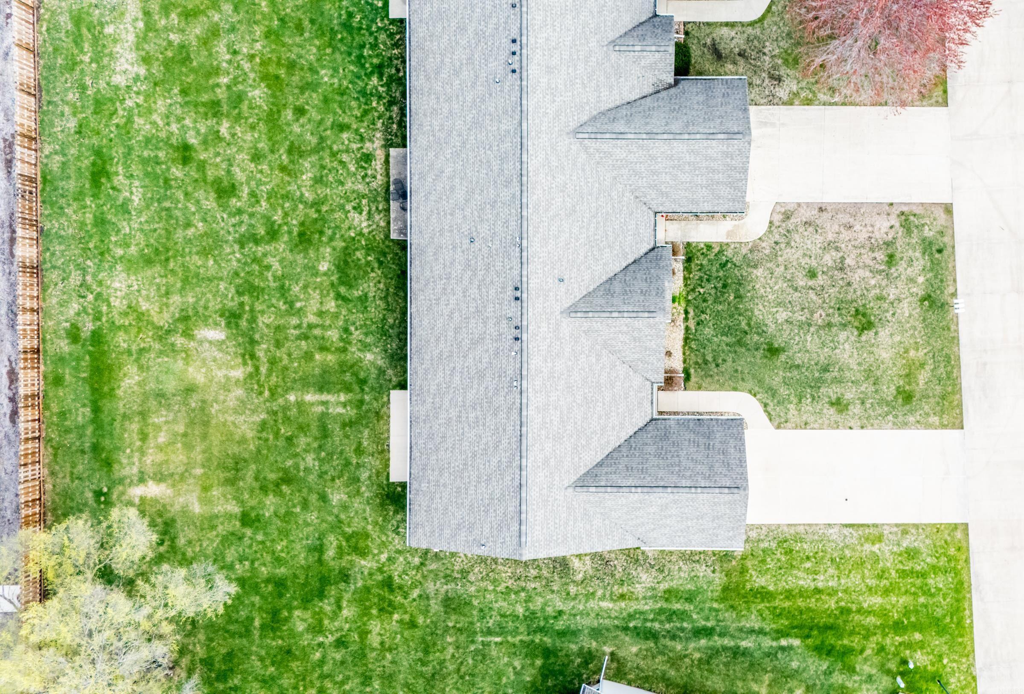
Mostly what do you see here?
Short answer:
grass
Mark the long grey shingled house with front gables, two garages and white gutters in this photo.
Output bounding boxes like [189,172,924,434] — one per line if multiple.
[405,0,751,559]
